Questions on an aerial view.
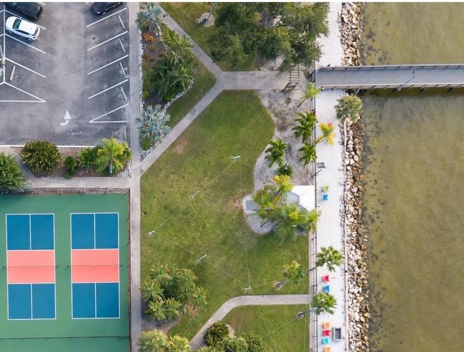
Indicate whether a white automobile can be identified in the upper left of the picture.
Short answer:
Yes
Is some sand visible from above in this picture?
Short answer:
Yes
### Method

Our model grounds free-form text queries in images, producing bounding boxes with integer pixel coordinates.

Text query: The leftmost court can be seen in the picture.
[3,213,59,320]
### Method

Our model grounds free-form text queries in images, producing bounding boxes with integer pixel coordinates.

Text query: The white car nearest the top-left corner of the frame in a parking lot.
[5,14,40,39]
